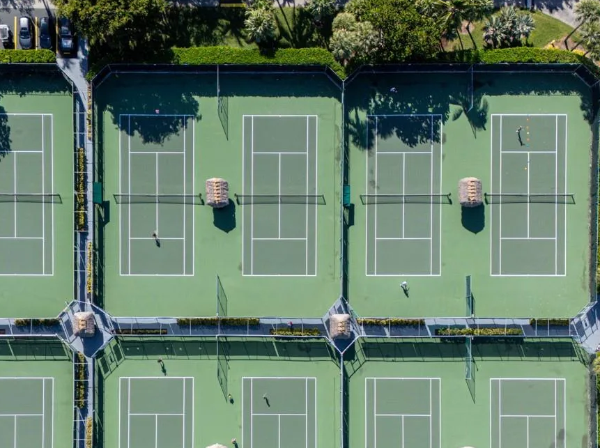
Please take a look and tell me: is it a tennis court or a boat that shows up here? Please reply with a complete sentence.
There is a tennis court in the scene.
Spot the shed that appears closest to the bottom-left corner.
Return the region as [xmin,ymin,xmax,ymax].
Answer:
[72,310,97,339]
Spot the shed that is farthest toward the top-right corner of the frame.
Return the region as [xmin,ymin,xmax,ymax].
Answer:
[454,175,483,209]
